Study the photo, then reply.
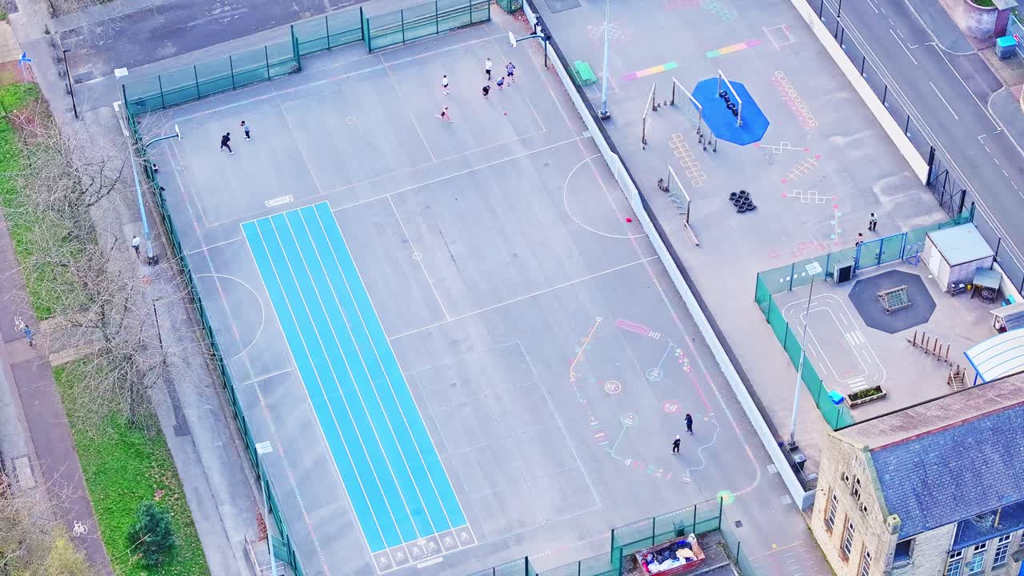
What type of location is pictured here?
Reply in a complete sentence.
This looks like a sports ground.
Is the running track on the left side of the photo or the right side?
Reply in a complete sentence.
You can find the running track on the left side of the picture.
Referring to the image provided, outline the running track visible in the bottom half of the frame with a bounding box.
[243,202,467,552]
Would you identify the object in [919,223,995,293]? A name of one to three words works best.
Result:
shed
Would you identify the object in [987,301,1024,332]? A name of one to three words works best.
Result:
shed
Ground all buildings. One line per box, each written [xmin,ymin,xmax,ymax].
[811,367,1024,576]
[919,223,995,293]
[987,301,1024,332]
